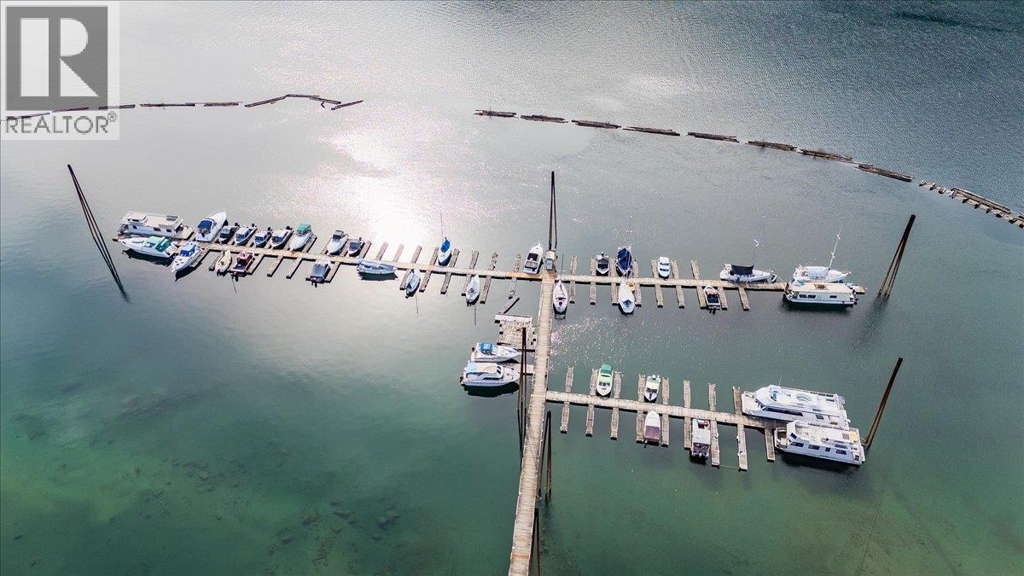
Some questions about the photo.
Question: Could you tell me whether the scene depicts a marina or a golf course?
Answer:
marina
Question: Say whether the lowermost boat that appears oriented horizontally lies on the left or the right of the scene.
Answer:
right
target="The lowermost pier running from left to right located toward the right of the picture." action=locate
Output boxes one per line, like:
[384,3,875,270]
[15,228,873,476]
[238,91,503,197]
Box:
[546,366,783,472]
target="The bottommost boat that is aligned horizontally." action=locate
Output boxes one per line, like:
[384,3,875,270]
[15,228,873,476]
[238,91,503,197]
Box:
[775,412,867,467]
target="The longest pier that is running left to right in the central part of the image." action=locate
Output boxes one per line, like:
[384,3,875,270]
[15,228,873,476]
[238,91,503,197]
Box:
[112,223,866,311]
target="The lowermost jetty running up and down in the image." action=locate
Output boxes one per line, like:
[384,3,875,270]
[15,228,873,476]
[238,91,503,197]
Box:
[497,282,554,576]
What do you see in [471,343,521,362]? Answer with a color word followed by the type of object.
white boat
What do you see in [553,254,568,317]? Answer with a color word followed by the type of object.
white boat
